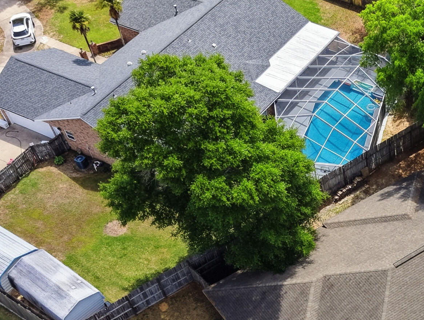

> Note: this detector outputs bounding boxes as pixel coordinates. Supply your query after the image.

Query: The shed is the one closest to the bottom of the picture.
[6,253,111,320]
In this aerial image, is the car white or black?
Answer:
white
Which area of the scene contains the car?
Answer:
top left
